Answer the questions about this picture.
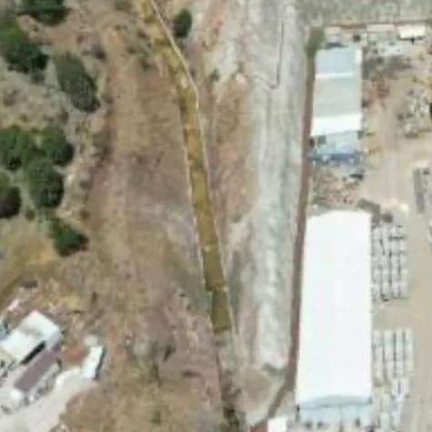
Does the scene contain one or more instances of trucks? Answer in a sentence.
Yes, you can see a truck in this photo.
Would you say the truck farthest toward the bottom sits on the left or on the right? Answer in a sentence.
You can find the truck farthest toward the bottom on the left side of the picture.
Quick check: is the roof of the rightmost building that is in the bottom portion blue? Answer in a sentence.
No, the color of the roof of the rightmost building that is in the bottom portion is white.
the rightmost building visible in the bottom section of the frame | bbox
[297,209,372,419]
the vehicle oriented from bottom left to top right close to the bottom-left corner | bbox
[40,366,76,398]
